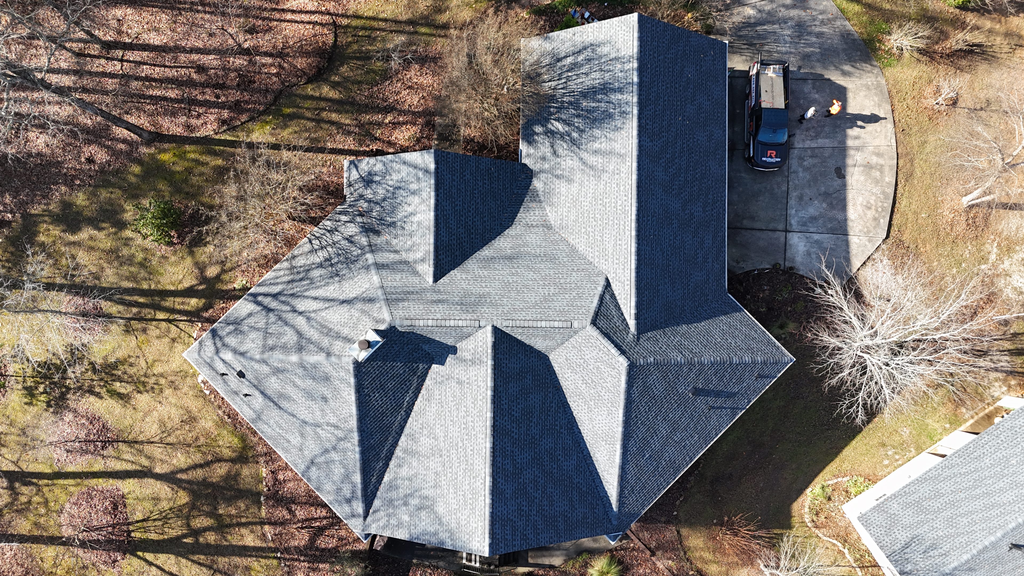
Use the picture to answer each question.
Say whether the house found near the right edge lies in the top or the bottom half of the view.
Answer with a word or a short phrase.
bottom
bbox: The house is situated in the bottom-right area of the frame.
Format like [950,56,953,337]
[842,396,1024,576]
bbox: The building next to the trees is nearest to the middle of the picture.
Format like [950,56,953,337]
[183,14,796,554]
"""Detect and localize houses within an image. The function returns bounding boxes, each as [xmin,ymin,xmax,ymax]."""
[842,396,1024,576]
[183,14,796,554]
